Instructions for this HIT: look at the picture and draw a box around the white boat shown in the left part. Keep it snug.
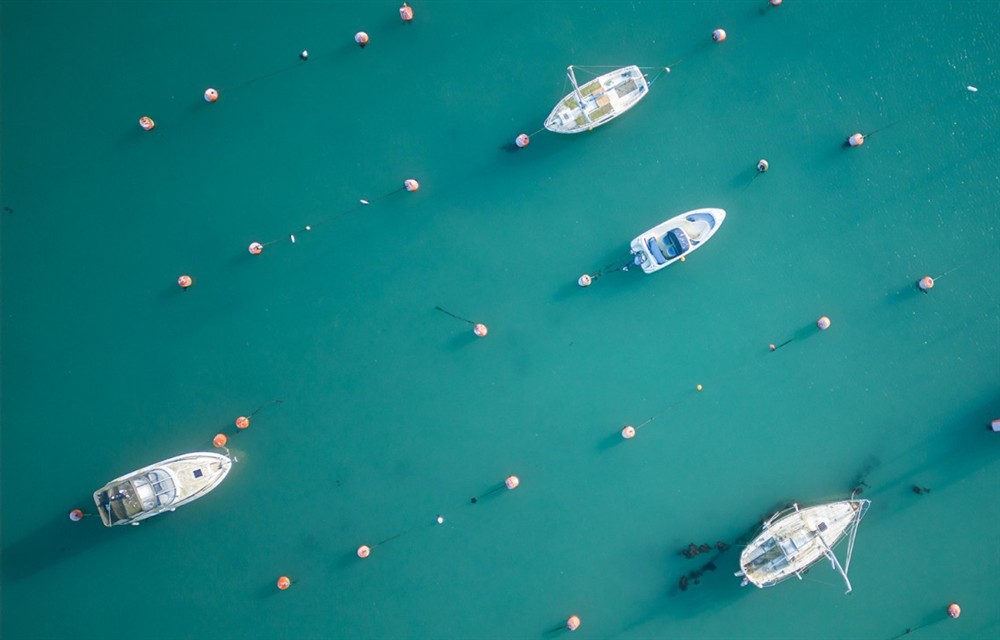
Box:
[95,451,239,527]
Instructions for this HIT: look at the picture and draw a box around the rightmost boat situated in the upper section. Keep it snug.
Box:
[619,206,727,275]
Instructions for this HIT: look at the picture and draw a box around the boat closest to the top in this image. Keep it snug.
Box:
[544,63,649,132]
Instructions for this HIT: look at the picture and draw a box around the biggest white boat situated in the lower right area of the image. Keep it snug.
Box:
[732,498,871,593]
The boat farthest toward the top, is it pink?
No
